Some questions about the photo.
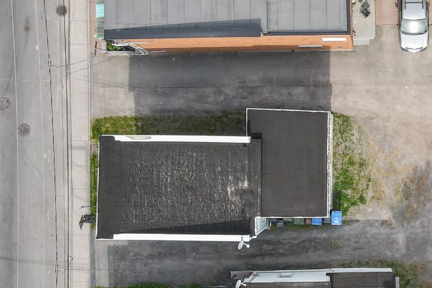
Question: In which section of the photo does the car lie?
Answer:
top right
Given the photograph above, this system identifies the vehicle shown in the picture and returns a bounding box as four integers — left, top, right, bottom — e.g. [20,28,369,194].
[396,0,431,51]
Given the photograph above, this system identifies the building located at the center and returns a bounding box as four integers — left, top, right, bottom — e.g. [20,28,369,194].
[97,105,334,239]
